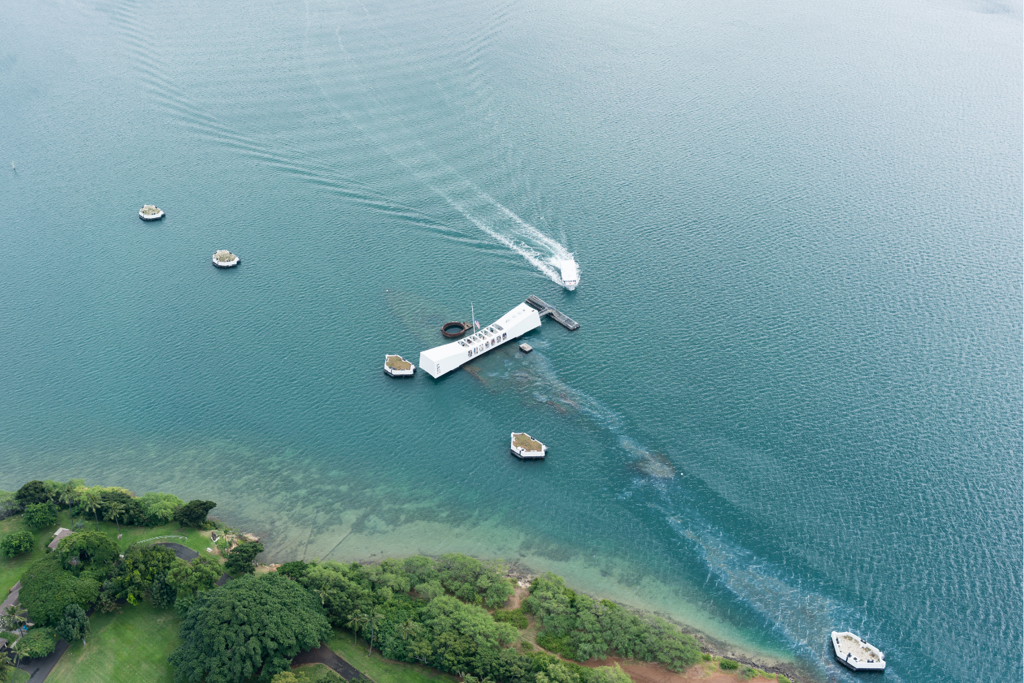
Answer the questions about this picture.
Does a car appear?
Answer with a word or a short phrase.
No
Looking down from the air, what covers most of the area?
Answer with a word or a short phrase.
water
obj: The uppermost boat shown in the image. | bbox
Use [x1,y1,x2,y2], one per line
[560,261,576,290]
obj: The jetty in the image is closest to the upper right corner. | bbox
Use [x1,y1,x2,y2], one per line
[524,294,582,332]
